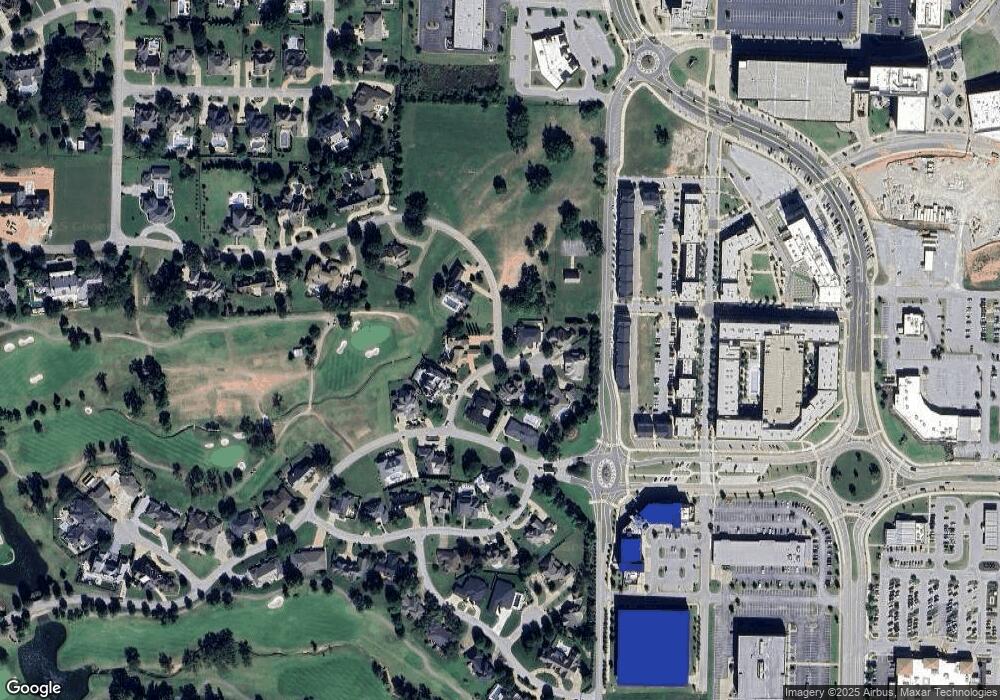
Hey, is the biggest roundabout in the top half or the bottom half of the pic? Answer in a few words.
bottom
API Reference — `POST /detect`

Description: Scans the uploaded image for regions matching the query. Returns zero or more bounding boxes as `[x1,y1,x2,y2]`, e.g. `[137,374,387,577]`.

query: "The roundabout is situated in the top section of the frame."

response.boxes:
[623,35,667,96]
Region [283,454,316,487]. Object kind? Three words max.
house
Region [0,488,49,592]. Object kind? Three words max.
pond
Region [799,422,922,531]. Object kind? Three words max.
roundabout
